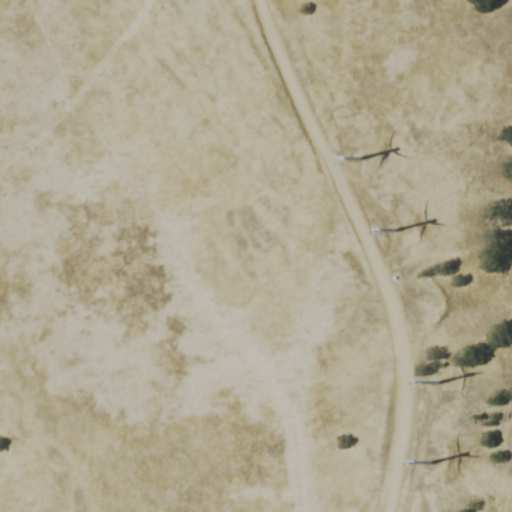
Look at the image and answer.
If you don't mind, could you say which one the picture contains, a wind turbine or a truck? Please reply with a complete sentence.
There is a wind turbine in the scene.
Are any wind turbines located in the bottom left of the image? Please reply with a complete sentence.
No, looking in the bottom left of the image, there is no wind turbine.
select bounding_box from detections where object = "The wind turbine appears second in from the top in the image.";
[367,210,399,244]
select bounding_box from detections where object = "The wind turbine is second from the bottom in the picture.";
[409,365,442,400]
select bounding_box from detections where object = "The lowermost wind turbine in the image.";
[404,444,436,478]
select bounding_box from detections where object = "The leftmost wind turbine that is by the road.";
[332,138,364,170]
